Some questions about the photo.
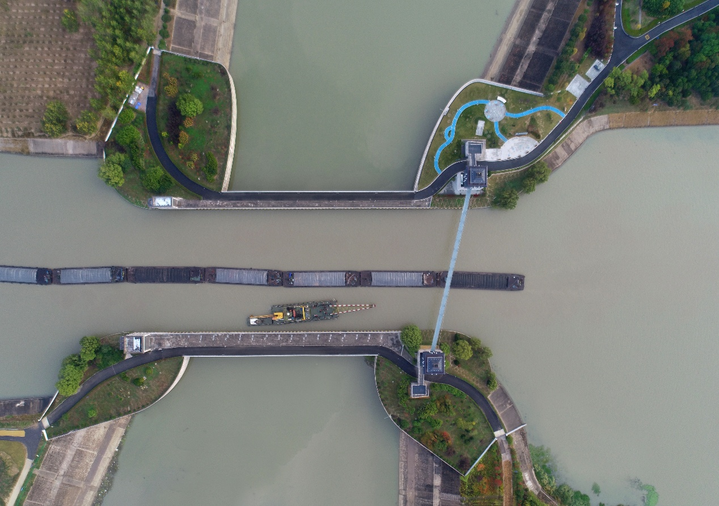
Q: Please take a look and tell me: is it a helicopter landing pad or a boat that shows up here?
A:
boat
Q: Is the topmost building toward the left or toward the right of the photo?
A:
right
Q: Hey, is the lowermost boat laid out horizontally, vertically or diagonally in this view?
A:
horizontally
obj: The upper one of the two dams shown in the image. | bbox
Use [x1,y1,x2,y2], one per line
[150,191,432,208]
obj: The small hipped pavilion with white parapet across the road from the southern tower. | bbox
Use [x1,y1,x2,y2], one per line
[409,372,428,398]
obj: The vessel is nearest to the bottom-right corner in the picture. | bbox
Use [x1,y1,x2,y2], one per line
[437,271,525,291]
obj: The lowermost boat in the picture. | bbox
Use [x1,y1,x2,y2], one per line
[247,299,376,327]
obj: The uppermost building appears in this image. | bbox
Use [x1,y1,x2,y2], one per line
[460,140,486,166]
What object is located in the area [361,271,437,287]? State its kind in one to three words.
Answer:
ship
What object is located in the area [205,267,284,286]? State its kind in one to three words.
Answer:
ship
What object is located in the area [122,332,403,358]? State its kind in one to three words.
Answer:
dam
